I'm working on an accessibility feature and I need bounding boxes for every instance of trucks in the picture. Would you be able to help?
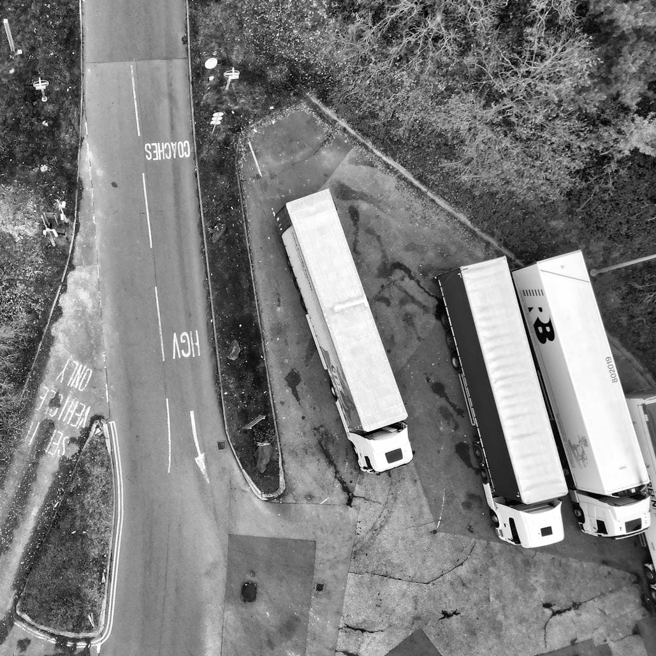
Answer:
[626,393,656,603]
[275,190,418,478]
[510,251,650,542]
[435,258,569,552]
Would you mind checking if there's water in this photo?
No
